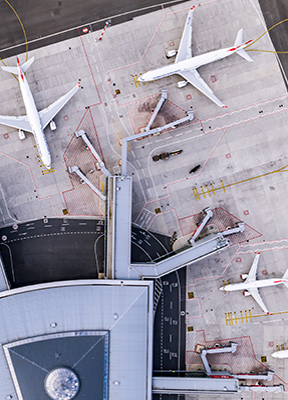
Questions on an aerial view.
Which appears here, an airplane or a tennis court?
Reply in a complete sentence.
The image shows an airplane.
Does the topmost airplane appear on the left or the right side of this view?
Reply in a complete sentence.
The topmost airplane sits on the right side.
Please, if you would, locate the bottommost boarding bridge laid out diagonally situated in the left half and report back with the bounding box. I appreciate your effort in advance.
[68,165,107,202]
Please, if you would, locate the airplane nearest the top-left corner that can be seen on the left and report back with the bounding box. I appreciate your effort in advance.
[0,55,82,168]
